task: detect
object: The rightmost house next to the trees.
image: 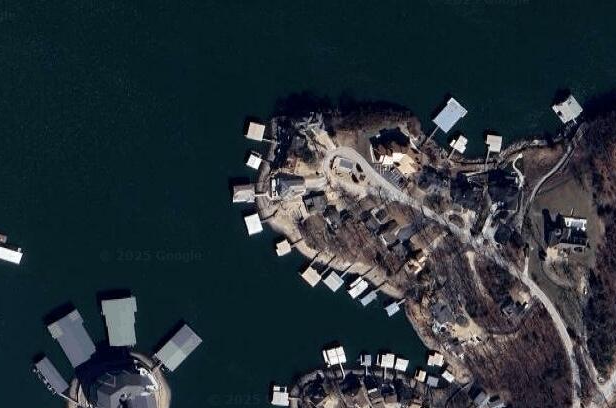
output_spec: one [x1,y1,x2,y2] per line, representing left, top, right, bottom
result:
[551,224,587,251]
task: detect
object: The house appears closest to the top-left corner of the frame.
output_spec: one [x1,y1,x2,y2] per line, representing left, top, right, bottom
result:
[276,173,309,201]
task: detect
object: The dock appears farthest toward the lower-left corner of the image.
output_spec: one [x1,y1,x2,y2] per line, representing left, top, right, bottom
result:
[36,356,78,402]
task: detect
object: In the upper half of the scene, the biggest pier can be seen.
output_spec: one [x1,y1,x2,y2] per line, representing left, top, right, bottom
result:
[426,98,471,143]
